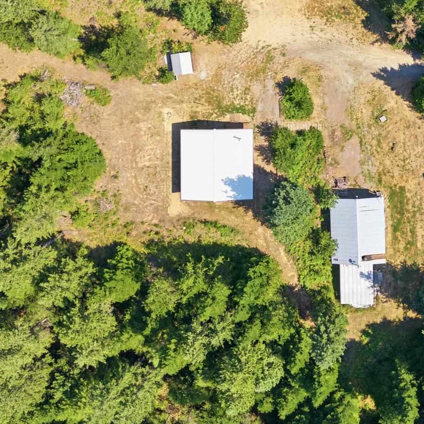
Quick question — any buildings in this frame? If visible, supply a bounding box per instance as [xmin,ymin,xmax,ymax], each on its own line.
[171,52,196,75]
[181,129,255,201]
[330,196,386,268]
